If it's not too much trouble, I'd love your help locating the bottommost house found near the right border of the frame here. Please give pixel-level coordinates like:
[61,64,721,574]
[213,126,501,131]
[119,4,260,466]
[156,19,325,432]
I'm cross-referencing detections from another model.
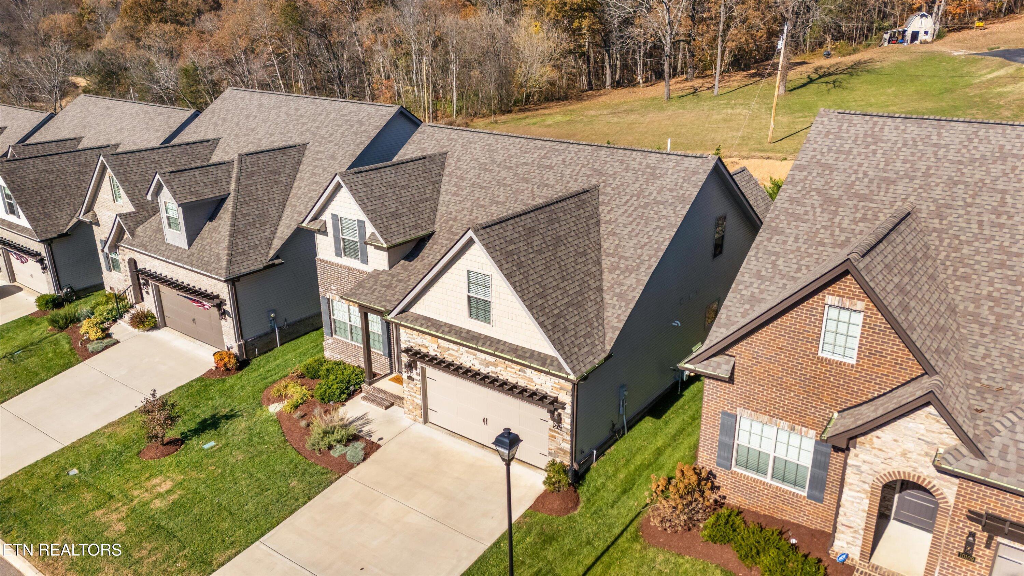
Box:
[678,105,1024,576]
